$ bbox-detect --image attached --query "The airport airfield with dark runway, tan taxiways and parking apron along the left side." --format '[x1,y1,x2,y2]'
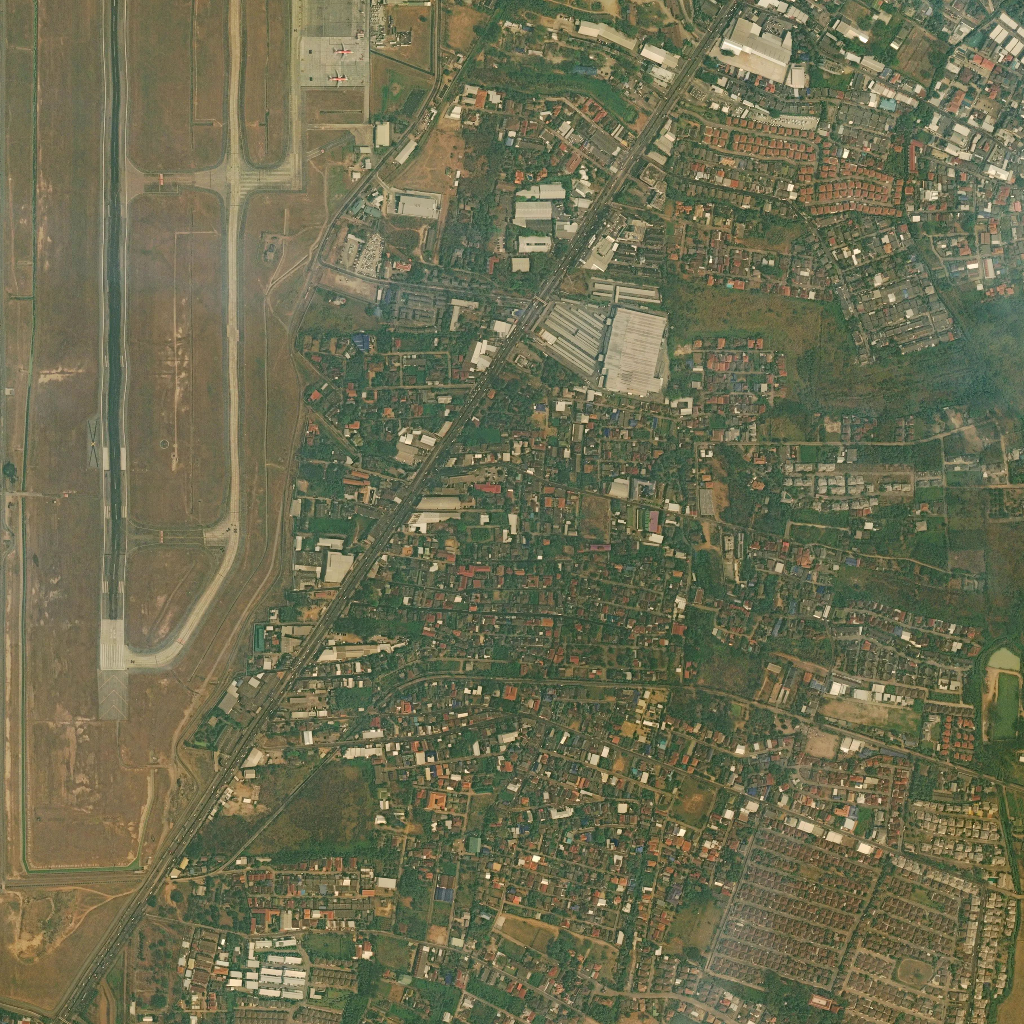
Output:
[5,0,374,768]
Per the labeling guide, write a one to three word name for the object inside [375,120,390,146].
building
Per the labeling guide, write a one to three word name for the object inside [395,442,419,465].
shed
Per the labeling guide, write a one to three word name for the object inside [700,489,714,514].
building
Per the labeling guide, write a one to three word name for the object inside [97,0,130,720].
runway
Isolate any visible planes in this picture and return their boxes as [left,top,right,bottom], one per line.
[335,44,354,61]
[329,71,348,88]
